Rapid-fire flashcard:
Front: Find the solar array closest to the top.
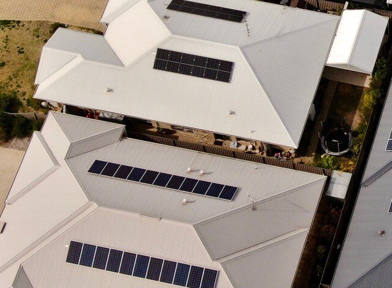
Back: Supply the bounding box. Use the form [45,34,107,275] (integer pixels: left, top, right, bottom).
[167,0,246,23]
